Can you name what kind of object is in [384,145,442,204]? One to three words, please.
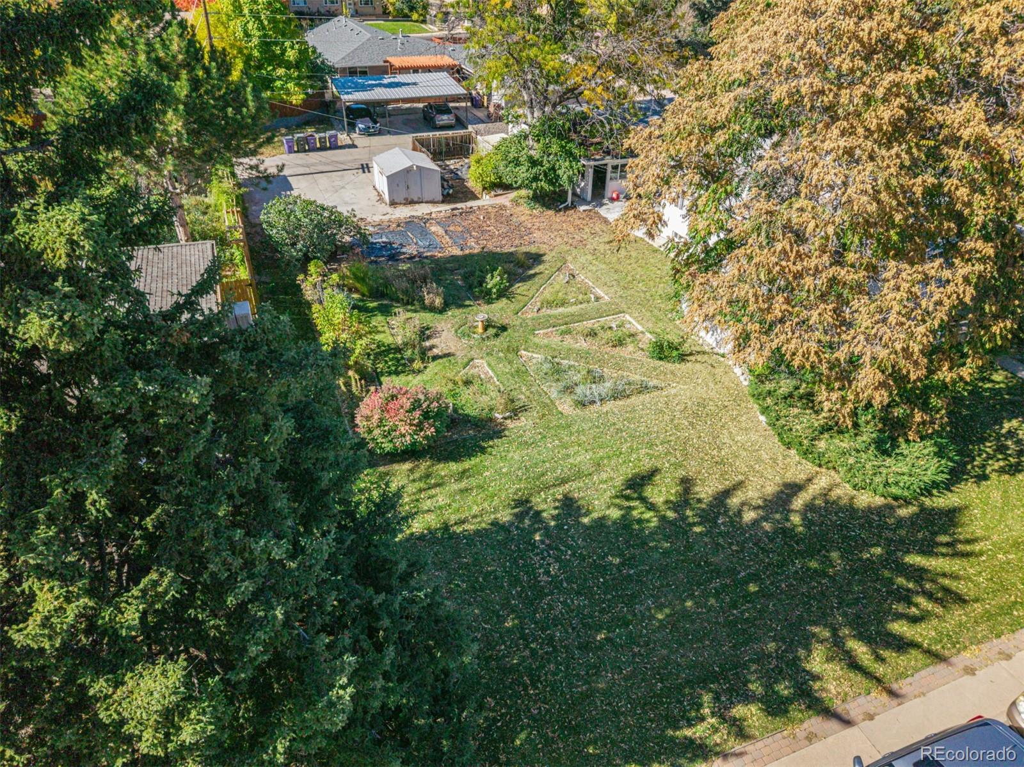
shed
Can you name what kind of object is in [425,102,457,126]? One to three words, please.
car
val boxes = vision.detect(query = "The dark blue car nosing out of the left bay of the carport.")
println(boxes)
[351,105,381,133]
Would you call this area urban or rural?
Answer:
rural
